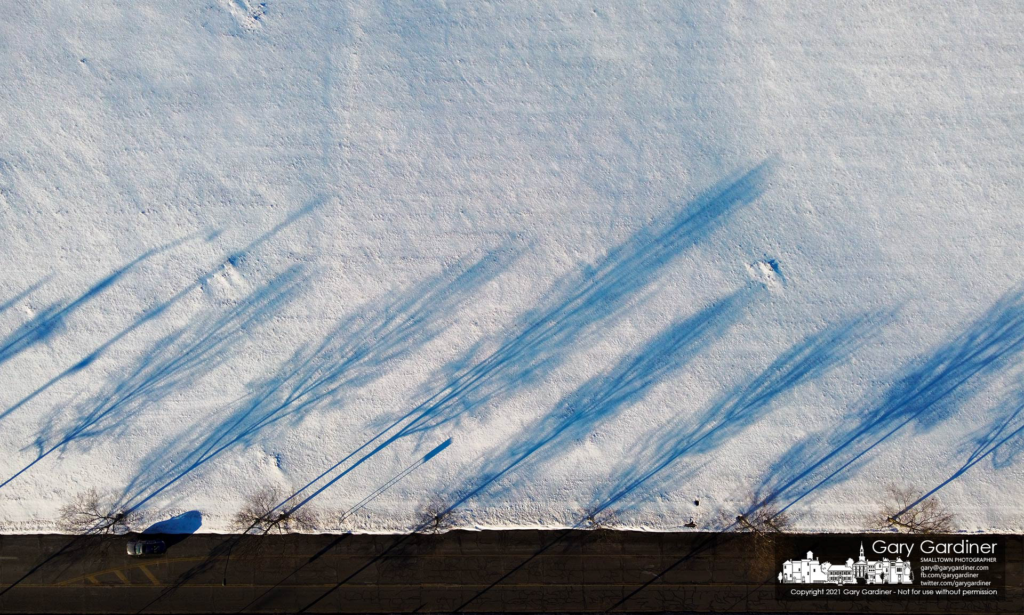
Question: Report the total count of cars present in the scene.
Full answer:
The picture shows 1 car.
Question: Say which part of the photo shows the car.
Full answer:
You can find the car in the bottom left area of the picture.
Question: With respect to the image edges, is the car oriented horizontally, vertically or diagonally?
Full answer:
Seen from above, the car lies horizontally.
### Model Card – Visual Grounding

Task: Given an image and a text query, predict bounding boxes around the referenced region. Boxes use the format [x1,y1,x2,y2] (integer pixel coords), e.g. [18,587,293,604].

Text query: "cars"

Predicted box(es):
[127,539,168,560]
